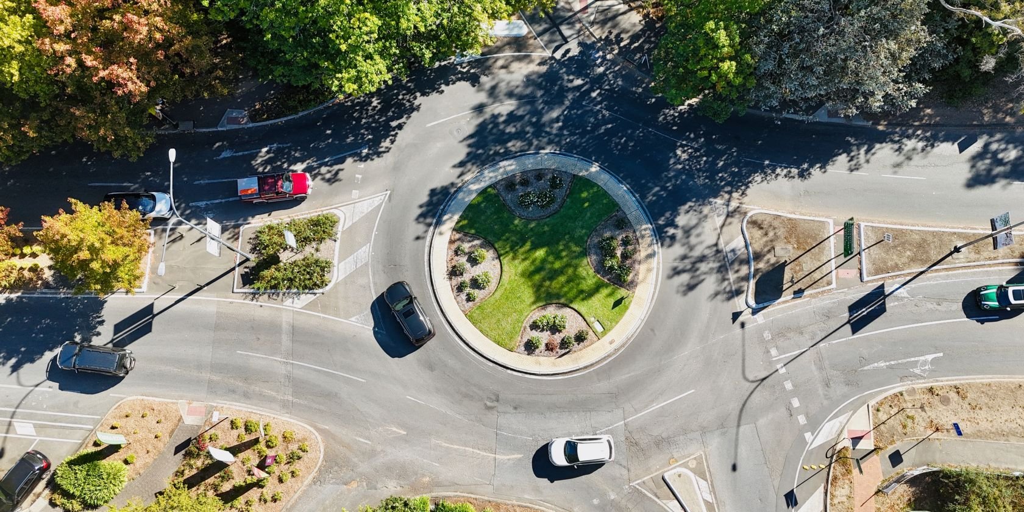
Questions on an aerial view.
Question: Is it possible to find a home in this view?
No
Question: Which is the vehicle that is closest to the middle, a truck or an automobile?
automobile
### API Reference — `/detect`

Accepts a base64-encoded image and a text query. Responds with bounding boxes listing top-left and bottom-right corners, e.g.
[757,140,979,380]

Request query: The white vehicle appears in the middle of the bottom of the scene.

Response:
[548,433,615,471]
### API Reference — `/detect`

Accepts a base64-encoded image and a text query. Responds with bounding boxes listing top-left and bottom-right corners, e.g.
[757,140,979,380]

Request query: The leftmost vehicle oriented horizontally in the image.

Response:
[56,341,138,378]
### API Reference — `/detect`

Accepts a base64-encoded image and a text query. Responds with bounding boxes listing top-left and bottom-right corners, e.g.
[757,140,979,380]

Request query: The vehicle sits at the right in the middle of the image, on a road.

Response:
[974,280,1024,314]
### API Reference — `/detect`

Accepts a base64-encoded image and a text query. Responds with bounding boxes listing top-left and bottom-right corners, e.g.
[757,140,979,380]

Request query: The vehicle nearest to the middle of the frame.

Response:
[385,282,436,349]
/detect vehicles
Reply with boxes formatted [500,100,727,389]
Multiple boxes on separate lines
[236,171,312,206]
[385,282,436,349]
[548,433,615,471]
[0,449,50,512]
[56,341,138,378]
[974,280,1024,314]
[102,185,175,218]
